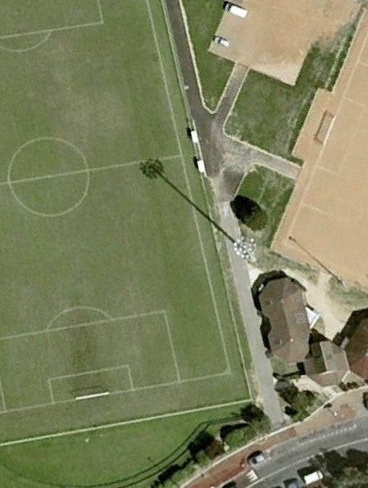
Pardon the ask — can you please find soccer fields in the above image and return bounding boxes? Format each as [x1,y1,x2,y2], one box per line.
[270,8,368,290]
[0,0,250,446]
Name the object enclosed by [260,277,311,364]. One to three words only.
house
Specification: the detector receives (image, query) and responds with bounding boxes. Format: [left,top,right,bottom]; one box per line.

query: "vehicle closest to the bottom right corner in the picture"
[304,471,322,485]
